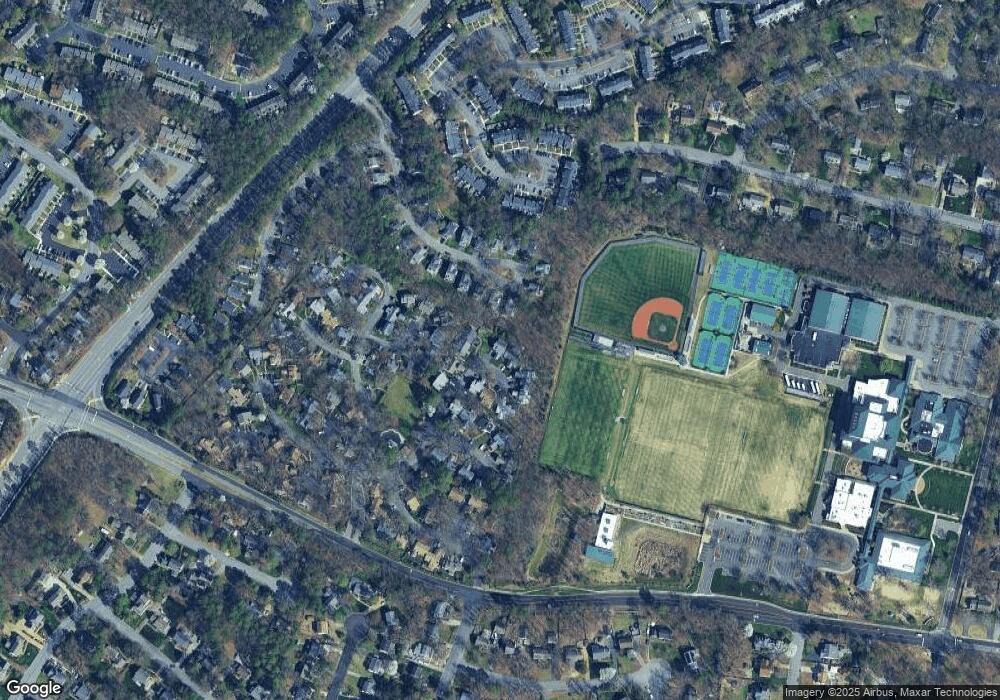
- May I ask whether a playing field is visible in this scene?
Yes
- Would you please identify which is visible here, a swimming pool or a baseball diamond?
baseball diamond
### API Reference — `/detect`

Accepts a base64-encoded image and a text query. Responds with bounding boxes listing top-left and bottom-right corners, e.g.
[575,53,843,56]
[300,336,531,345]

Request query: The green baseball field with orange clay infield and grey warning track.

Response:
[574,235,701,351]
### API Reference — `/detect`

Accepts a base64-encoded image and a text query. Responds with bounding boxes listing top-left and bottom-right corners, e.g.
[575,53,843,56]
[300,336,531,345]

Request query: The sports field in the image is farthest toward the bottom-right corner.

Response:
[608,366,822,527]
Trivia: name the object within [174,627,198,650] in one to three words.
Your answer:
house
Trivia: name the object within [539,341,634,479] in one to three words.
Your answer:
soccer field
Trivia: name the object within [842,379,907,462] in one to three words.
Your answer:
building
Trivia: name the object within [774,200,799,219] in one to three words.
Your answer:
house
